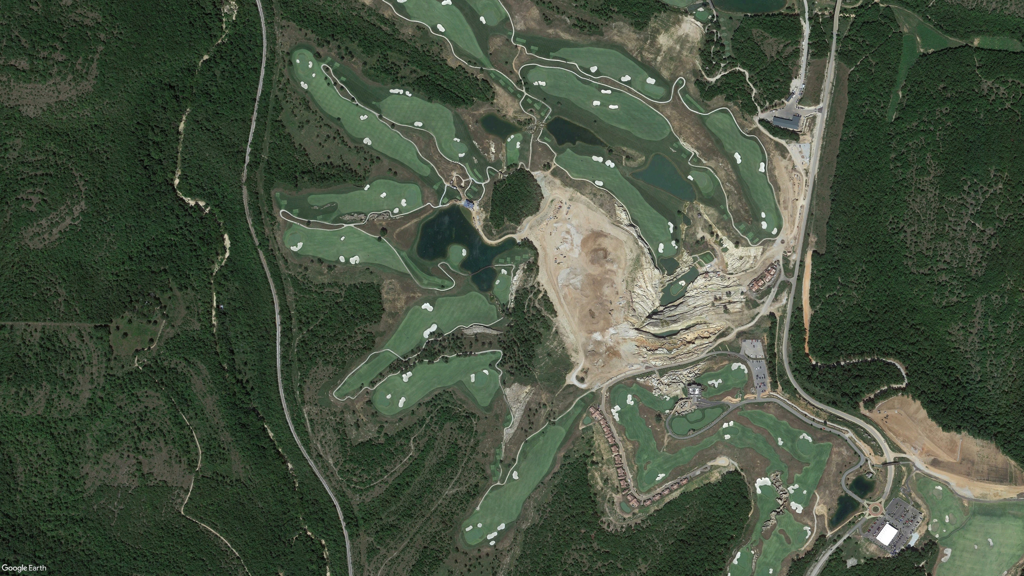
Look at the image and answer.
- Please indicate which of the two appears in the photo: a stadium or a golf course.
golf course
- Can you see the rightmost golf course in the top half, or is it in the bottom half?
bottom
